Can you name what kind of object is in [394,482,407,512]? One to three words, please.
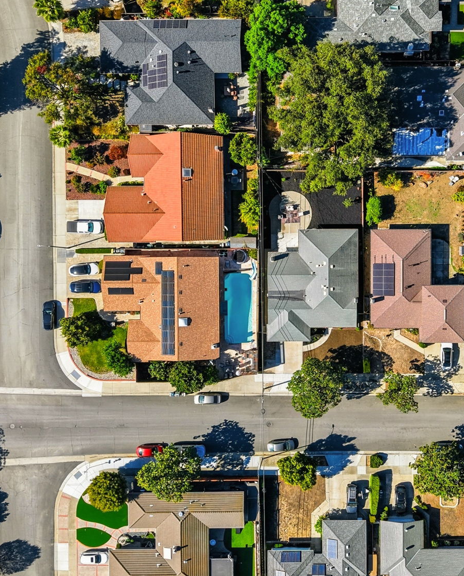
vehicle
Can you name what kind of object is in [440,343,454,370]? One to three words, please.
vehicle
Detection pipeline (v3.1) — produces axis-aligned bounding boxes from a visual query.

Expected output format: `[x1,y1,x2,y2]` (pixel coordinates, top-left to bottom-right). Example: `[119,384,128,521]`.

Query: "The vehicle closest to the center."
[194,392,221,406]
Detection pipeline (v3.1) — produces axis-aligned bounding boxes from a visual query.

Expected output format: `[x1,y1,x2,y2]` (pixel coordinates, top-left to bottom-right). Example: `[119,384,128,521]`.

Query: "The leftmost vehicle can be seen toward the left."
[41,300,57,330]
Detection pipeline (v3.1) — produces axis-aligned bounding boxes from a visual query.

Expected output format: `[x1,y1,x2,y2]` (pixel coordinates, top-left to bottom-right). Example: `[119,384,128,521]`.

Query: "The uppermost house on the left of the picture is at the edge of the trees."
[99,20,241,126]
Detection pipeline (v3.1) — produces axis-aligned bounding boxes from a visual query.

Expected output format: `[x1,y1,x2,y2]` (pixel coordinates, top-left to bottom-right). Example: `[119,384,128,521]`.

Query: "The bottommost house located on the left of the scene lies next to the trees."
[109,490,244,576]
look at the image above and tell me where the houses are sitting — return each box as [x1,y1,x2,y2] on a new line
[103,133,225,242]
[380,517,464,576]
[99,20,241,126]
[109,490,244,576]
[267,229,358,342]
[392,67,464,161]
[315,0,453,55]
[268,517,367,576]
[100,256,219,363]
[370,229,464,343]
